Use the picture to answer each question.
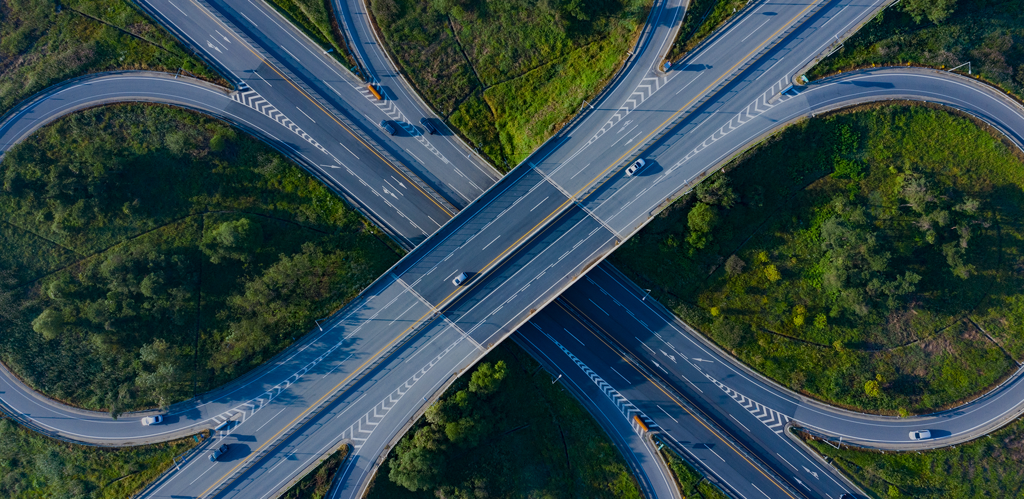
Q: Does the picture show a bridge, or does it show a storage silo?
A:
bridge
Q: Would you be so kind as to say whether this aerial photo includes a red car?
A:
No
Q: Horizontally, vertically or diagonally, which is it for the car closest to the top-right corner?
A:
diagonally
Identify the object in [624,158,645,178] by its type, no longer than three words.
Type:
car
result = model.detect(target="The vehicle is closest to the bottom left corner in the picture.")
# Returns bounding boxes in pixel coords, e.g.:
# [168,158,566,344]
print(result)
[141,414,164,426]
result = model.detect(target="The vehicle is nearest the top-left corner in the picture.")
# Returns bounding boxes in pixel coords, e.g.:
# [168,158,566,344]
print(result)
[379,117,397,138]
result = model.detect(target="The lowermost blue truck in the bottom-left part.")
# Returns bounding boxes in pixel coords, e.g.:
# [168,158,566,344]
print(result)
[208,442,231,463]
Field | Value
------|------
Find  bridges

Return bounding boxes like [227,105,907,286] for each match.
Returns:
[340,133,656,378]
